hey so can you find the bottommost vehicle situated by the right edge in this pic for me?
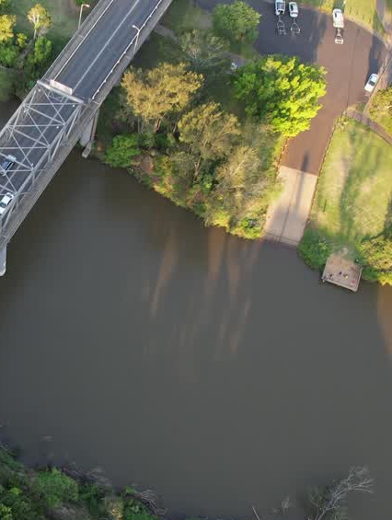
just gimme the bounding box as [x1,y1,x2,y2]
[362,74,378,93]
